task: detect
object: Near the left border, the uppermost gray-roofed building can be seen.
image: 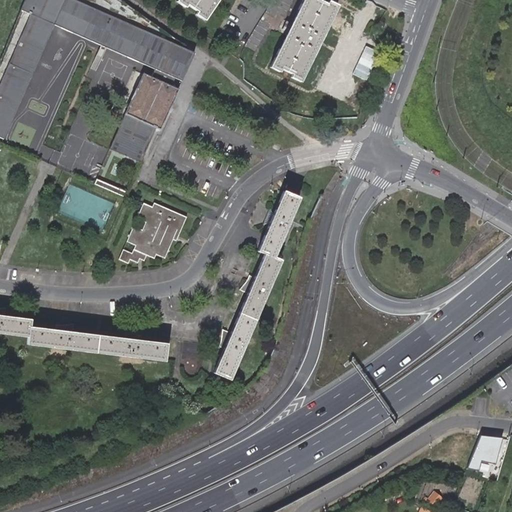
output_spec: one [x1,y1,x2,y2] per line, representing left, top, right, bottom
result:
[0,0,196,141]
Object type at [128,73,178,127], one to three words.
building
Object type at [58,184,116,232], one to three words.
sports court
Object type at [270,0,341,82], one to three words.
building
